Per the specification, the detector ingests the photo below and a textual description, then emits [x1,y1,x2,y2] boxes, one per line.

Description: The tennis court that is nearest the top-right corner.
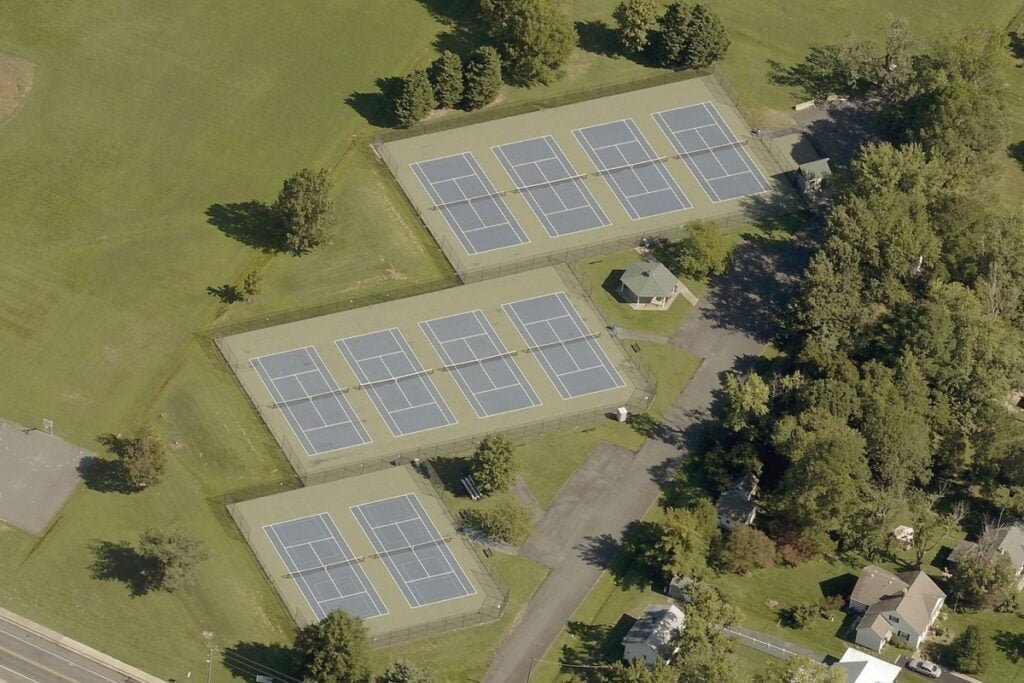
[652,102,773,203]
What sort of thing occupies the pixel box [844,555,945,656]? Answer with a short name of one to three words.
house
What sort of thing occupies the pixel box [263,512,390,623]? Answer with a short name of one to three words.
tennis court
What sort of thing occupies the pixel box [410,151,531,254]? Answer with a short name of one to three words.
tennis court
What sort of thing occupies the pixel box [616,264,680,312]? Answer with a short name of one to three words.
gazebo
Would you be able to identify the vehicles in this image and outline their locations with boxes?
[911,657,944,676]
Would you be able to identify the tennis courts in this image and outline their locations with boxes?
[571,118,693,220]
[335,327,458,436]
[250,345,373,455]
[491,135,612,237]
[418,309,543,417]
[410,151,531,254]
[350,493,476,607]
[502,291,626,399]
[263,512,390,623]
[652,102,773,203]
